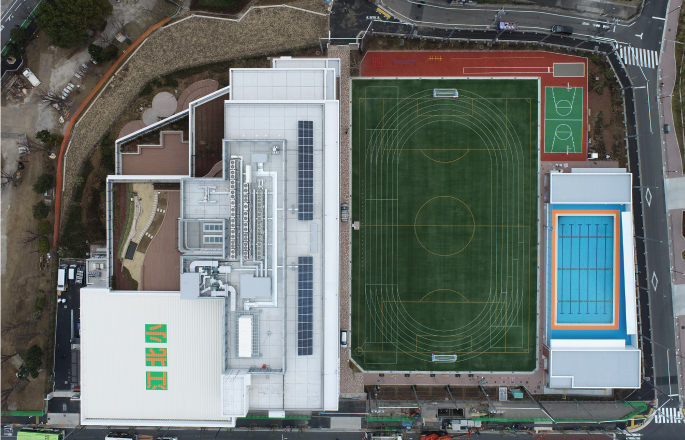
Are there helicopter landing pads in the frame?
No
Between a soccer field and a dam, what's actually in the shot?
soccer field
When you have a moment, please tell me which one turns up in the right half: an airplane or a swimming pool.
swimming pool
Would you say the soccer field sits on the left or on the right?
right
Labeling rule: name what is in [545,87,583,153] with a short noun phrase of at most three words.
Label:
basketball court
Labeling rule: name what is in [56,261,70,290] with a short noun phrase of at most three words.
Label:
vehicle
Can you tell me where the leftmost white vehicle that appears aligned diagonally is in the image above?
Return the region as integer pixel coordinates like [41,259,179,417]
[22,67,45,90]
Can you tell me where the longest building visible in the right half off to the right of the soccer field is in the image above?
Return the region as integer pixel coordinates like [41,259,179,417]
[542,169,642,394]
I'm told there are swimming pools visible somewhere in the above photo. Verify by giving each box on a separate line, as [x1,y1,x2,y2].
[553,210,619,330]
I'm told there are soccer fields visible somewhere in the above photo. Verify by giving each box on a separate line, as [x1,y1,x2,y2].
[349,74,545,377]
